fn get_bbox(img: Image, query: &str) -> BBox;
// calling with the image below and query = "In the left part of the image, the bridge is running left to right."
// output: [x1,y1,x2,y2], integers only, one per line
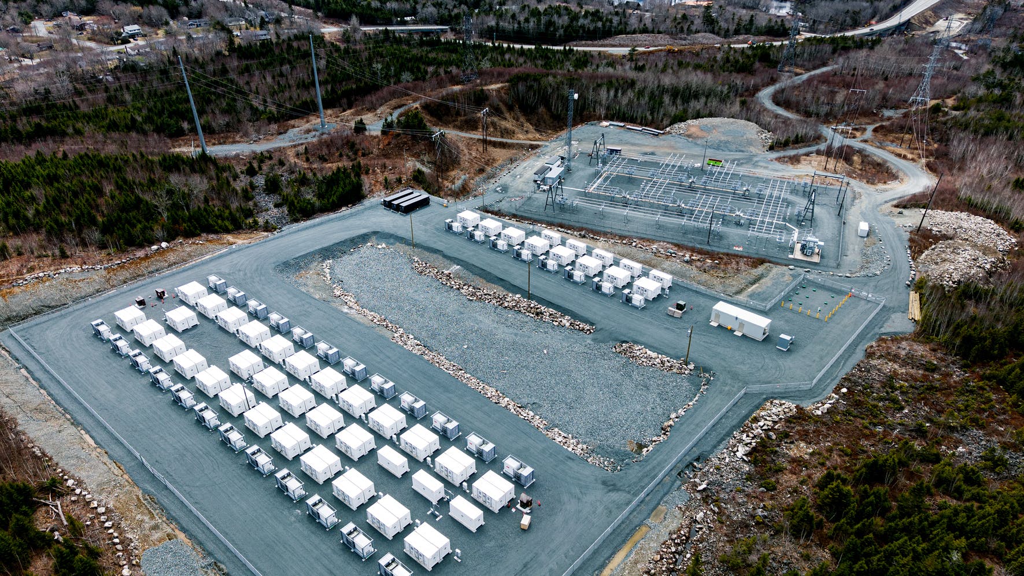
[338,25,456,38]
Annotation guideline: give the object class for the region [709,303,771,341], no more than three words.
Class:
building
